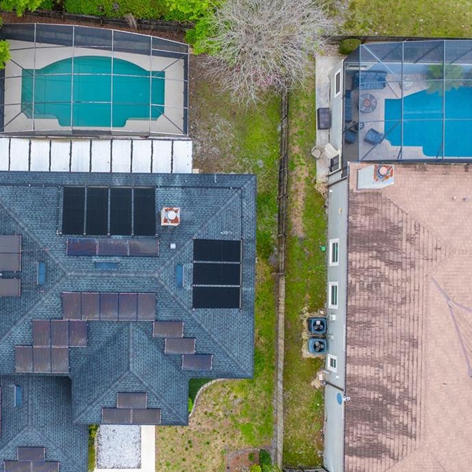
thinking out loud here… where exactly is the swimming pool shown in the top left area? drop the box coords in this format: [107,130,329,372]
[17,51,169,131]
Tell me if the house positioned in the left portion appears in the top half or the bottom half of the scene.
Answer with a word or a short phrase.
bottom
